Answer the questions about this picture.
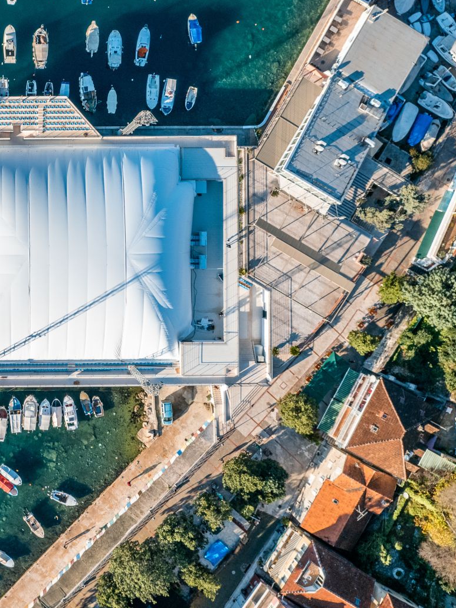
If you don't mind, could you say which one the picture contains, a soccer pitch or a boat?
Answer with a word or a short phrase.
boat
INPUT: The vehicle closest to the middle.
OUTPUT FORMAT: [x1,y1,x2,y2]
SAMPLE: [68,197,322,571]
[162,401,175,426]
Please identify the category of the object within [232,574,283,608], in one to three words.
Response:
house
